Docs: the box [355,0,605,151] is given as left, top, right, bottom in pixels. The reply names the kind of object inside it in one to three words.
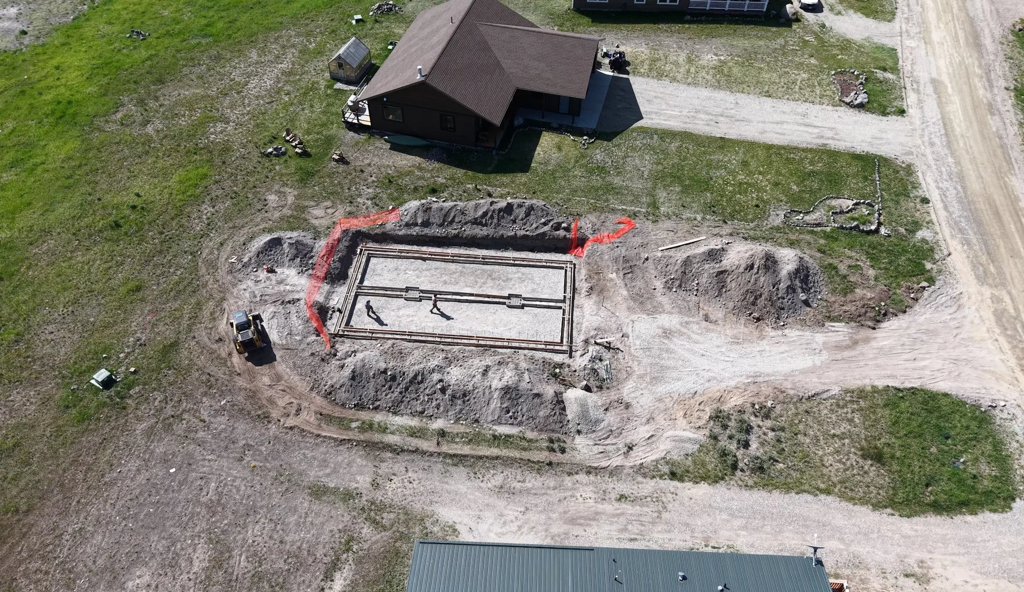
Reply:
house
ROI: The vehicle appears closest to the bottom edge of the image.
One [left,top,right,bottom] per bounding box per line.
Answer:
[219,306,266,355]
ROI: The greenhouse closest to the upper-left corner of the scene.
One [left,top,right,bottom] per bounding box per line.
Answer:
[324,30,368,83]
